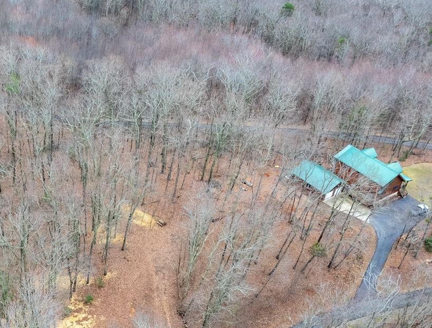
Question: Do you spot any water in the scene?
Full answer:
No, there's no water in this view.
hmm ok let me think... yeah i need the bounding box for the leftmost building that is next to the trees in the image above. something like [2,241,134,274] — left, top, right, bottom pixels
[292,159,347,201]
